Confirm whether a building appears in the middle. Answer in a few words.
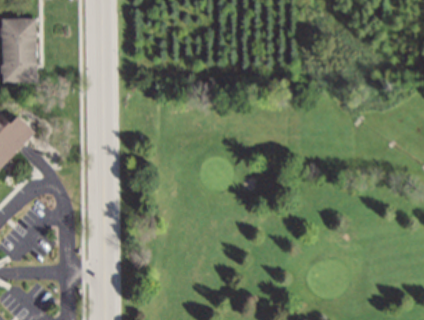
No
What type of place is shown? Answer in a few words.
golf course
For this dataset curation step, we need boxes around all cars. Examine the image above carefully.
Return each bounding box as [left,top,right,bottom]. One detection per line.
[42,290,52,300]
[34,203,44,215]
[40,240,50,251]
[34,252,44,262]
[18,219,28,228]
[86,268,97,278]
[2,239,13,250]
